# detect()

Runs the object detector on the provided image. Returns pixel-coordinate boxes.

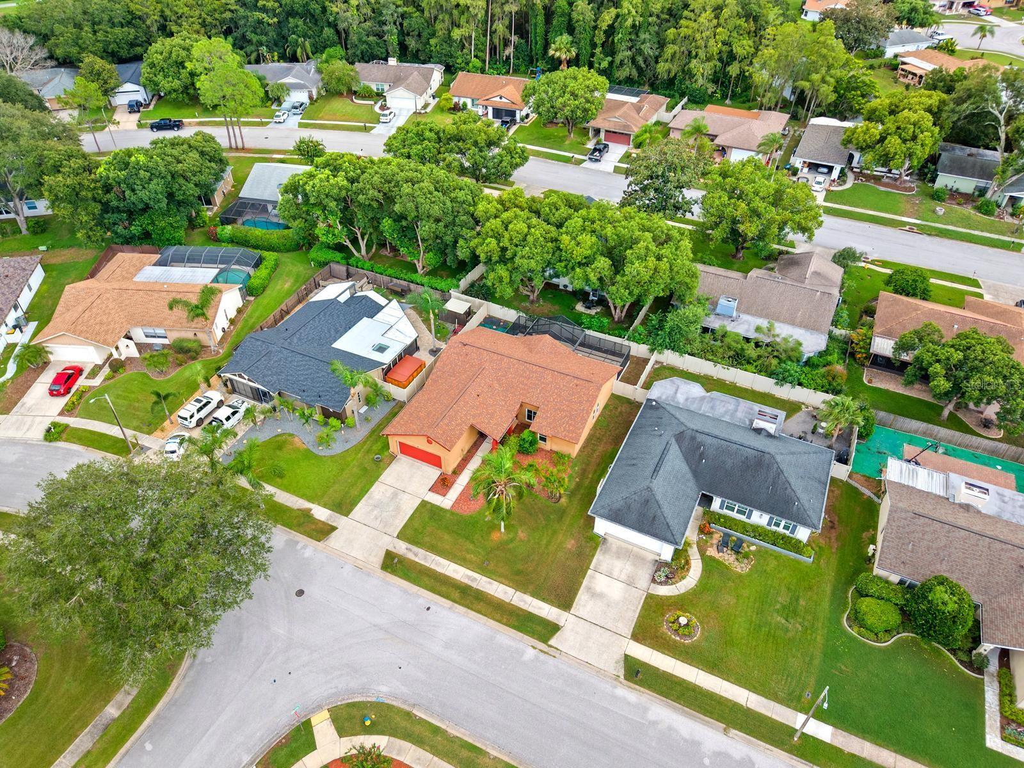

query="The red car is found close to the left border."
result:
[46,366,81,397]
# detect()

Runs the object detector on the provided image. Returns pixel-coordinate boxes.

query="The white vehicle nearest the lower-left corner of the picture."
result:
[154,427,193,465]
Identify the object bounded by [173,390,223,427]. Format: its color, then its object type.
white car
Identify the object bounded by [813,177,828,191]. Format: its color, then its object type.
white car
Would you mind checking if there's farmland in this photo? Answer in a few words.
No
